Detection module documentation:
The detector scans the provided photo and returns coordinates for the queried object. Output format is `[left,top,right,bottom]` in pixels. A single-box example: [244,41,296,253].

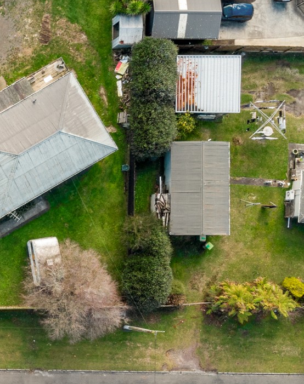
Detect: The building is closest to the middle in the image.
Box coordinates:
[161,141,230,235]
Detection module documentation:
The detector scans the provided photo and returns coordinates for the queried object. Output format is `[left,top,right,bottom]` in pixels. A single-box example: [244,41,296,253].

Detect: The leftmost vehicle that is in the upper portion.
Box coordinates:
[221,3,259,25]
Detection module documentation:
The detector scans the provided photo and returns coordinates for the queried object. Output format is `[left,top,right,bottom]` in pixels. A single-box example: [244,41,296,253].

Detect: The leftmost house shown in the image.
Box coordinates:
[0,72,119,220]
